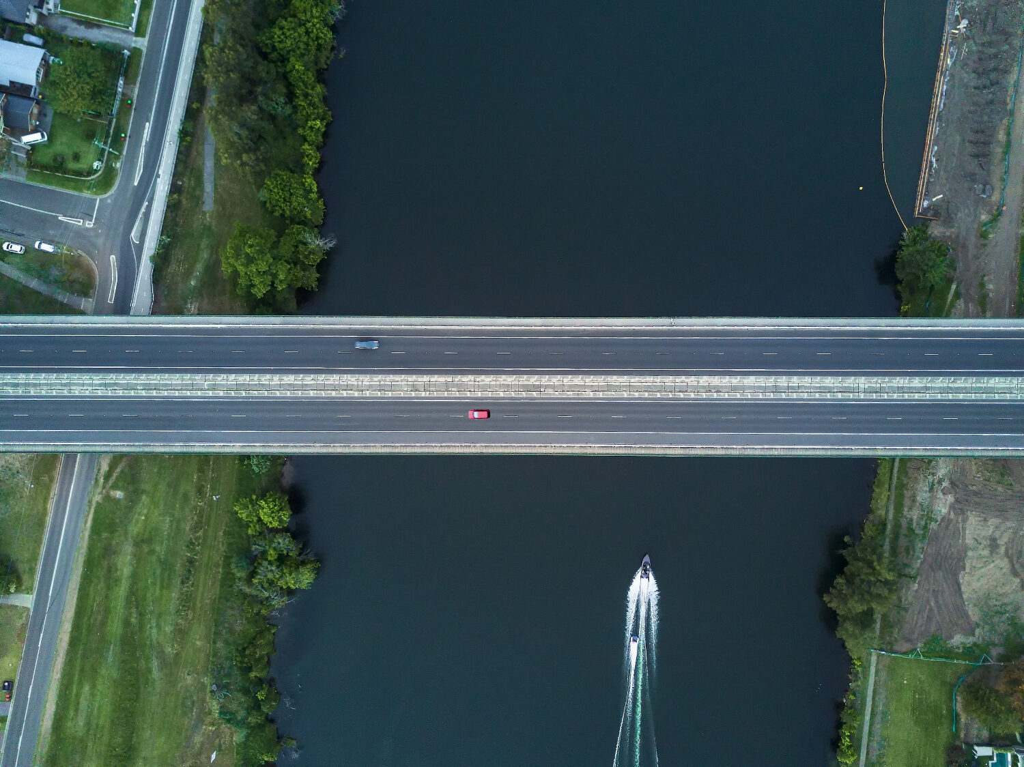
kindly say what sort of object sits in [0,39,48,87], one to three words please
house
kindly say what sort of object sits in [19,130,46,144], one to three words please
vehicle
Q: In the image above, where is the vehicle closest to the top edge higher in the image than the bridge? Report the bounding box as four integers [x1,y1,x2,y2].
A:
[22,31,43,44]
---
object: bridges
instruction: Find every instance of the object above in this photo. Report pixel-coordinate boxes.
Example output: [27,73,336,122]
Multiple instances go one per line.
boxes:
[0,314,1024,457]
